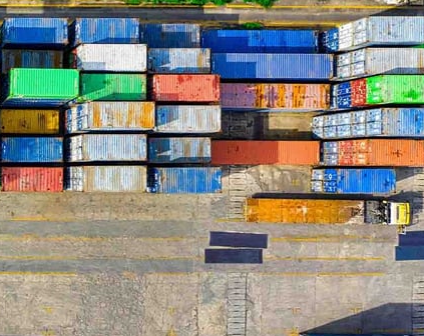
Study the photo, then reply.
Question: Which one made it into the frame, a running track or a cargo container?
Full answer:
This aerial view contains a cargo container.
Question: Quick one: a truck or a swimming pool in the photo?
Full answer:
This aerial view contains a truck.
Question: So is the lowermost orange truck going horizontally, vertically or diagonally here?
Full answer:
From this overhead view, the lowermost orange truck appears to run horizontally.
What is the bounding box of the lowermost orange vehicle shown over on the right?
[243,198,409,231]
